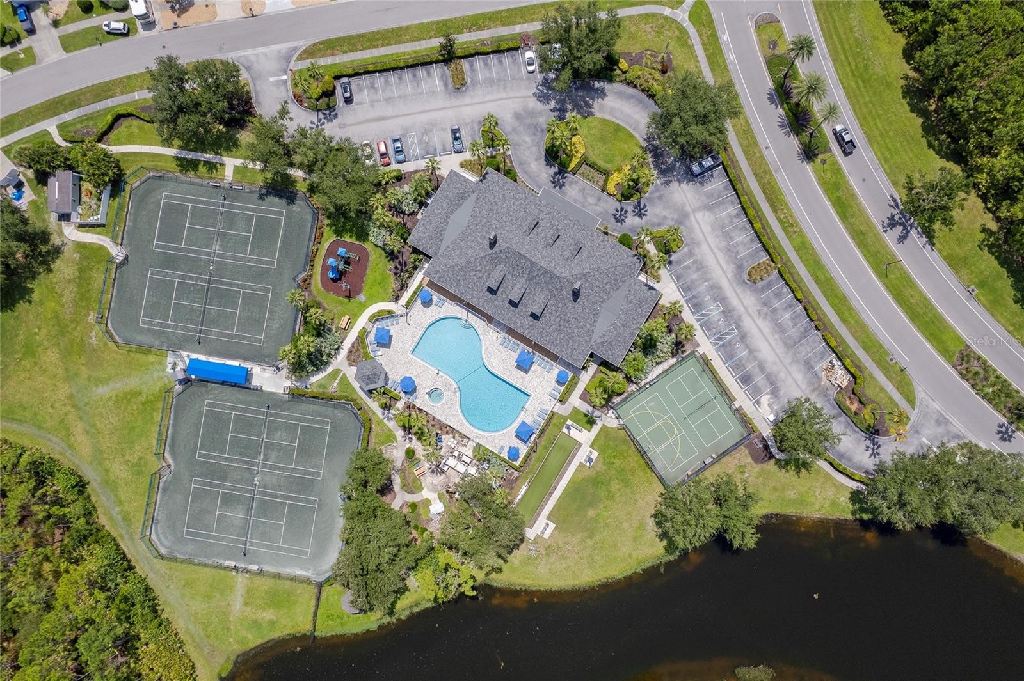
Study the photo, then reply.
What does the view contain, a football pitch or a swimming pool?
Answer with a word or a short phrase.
swimming pool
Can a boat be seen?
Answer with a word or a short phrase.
No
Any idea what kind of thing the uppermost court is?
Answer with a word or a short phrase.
tennis court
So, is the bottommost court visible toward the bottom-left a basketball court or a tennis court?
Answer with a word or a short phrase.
tennis court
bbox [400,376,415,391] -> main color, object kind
blue umbrella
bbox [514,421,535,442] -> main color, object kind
blue umbrella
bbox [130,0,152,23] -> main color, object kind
white vehicle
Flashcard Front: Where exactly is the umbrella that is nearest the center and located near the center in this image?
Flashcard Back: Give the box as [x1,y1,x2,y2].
[515,349,535,370]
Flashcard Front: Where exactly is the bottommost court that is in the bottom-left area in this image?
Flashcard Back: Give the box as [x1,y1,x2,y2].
[150,466,351,581]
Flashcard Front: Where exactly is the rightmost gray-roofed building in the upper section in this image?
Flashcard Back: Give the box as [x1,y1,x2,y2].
[407,168,662,369]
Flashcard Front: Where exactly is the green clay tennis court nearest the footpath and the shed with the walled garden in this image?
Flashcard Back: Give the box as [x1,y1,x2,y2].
[122,178,317,278]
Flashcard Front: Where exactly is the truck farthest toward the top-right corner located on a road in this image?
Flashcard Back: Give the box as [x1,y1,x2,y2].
[834,123,857,155]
